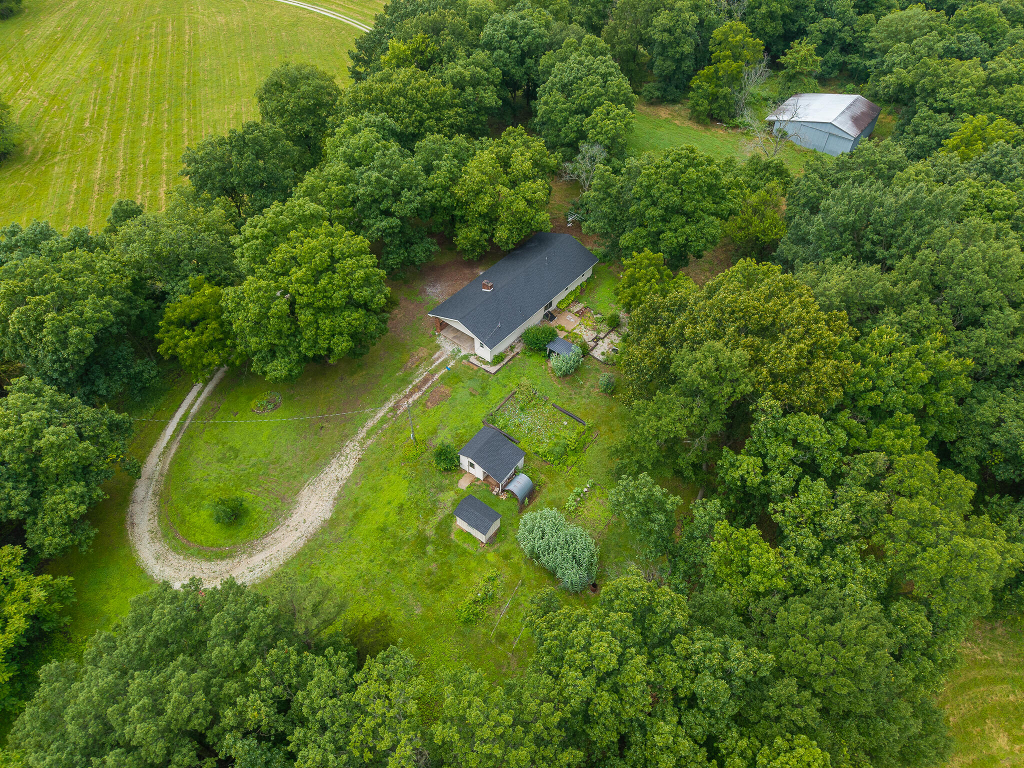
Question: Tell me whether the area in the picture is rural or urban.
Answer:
rural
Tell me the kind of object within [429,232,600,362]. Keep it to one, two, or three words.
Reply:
house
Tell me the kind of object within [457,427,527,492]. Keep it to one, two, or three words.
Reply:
shed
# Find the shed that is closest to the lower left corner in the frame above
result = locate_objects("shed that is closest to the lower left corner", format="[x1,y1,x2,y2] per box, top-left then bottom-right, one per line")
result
[453,496,502,544]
